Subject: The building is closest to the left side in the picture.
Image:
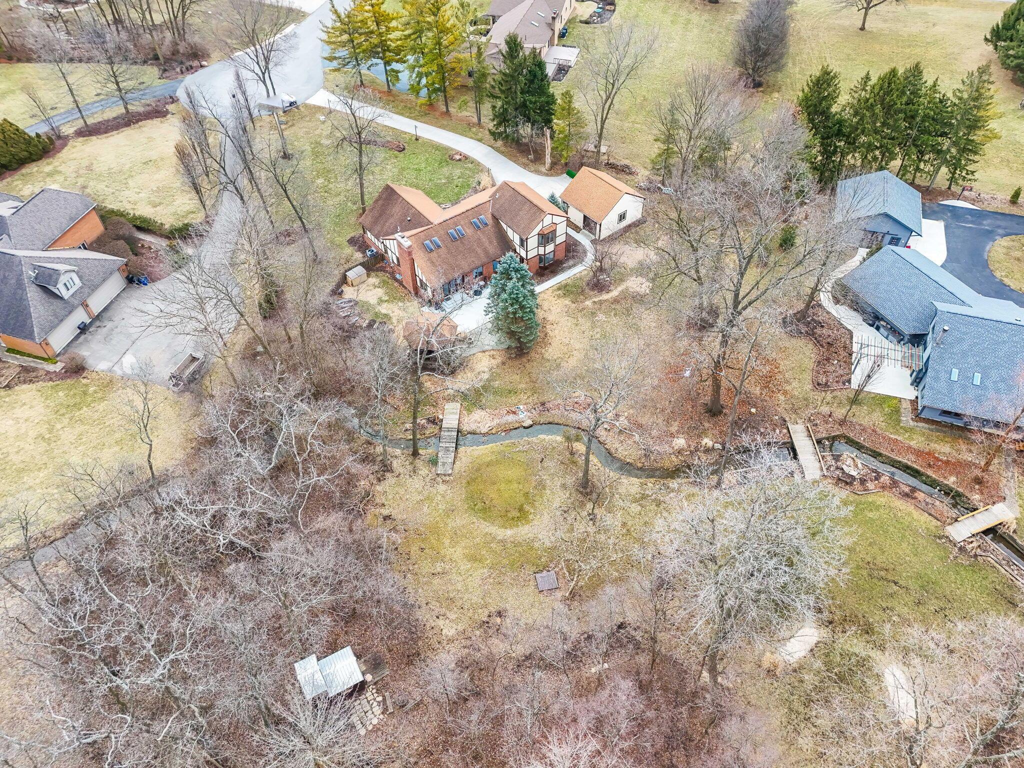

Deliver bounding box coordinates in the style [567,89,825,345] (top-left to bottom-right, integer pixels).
[0,192,128,355]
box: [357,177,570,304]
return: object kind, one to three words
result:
house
